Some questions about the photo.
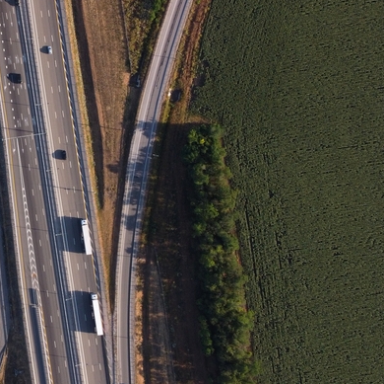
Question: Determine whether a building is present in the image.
No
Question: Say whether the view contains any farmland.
Yes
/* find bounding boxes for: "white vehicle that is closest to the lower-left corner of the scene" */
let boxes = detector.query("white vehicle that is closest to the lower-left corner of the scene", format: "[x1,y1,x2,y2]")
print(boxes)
[91,293,104,335]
